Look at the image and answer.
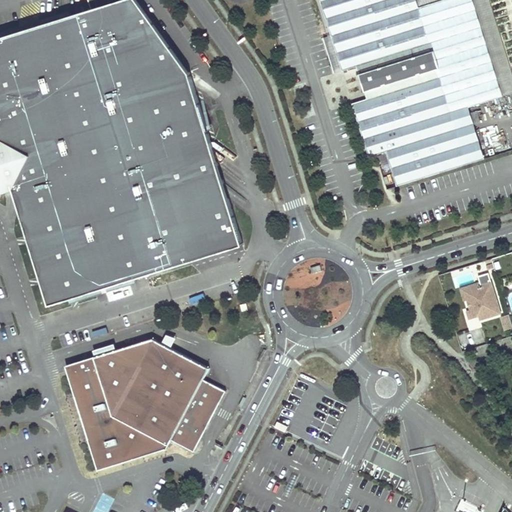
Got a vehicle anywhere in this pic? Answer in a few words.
Yes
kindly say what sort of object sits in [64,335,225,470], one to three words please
building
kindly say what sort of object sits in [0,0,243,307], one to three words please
building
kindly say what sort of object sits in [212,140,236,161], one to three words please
vehicle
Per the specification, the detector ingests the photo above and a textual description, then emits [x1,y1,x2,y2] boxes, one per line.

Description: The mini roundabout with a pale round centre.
[364,365,408,409]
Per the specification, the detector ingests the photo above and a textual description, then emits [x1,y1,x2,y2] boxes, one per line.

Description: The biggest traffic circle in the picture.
[263,236,374,348]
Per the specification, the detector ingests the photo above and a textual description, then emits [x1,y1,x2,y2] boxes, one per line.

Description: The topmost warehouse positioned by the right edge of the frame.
[320,0,502,186]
